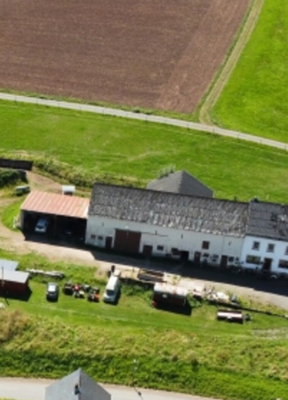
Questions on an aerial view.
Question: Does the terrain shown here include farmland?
Yes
